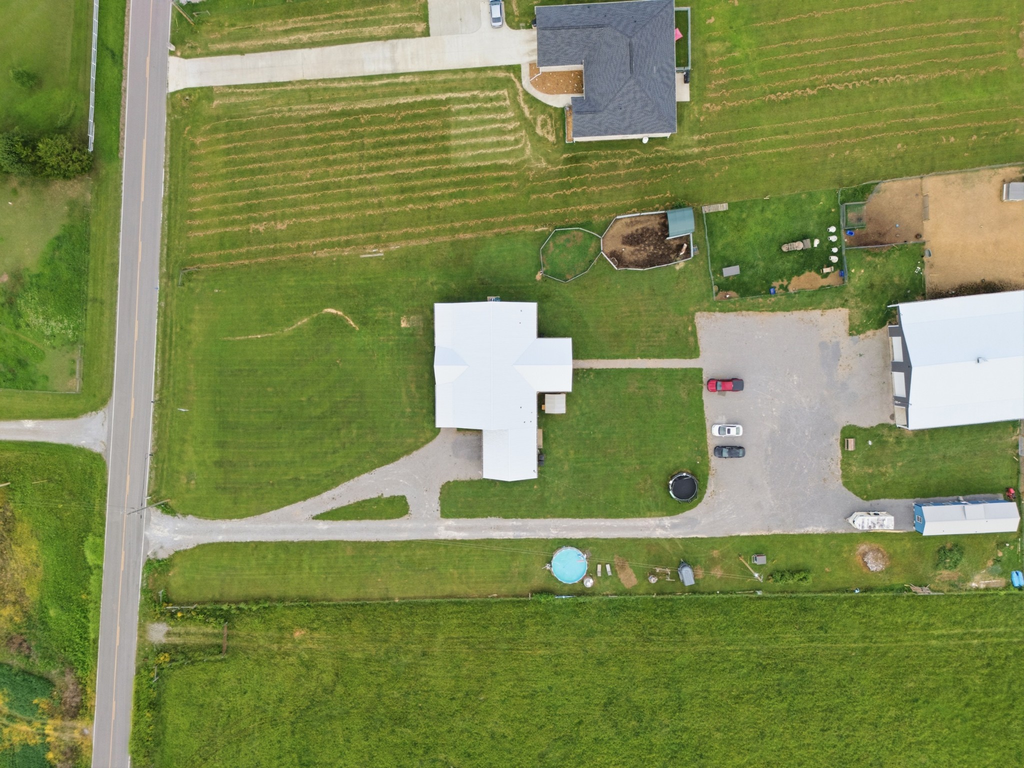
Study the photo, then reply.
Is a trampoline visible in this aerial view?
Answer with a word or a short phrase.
Yes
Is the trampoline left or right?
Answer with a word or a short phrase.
right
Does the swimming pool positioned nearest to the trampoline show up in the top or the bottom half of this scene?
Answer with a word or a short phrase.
bottom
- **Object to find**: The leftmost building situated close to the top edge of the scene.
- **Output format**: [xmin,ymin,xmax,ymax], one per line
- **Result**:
[530,0,677,143]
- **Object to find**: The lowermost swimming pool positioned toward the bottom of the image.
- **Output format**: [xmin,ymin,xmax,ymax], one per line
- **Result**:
[551,547,588,585]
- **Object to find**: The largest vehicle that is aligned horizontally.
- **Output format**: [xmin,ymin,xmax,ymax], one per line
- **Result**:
[844,512,896,531]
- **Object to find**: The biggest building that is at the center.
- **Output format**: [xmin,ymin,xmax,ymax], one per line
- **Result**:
[434,302,573,480]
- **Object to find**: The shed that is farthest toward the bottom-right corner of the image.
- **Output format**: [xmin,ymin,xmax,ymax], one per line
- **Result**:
[912,498,1021,535]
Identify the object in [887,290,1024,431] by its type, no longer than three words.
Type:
barn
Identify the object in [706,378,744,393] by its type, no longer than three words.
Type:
vehicle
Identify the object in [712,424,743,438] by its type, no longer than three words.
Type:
car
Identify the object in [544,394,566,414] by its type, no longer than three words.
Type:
shed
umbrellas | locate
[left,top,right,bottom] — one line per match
[673,22,686,40]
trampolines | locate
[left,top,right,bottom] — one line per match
[670,474,702,504]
